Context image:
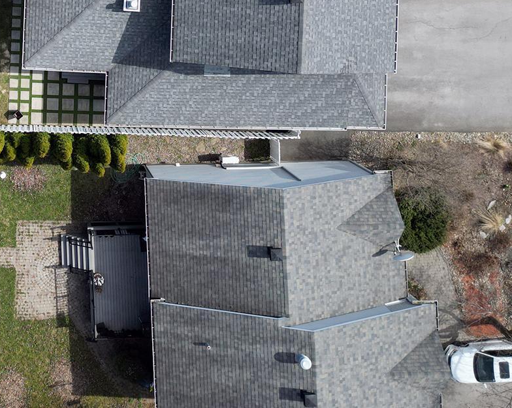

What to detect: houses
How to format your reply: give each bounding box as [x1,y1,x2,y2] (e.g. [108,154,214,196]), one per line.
[20,0,403,133]
[141,163,453,408]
